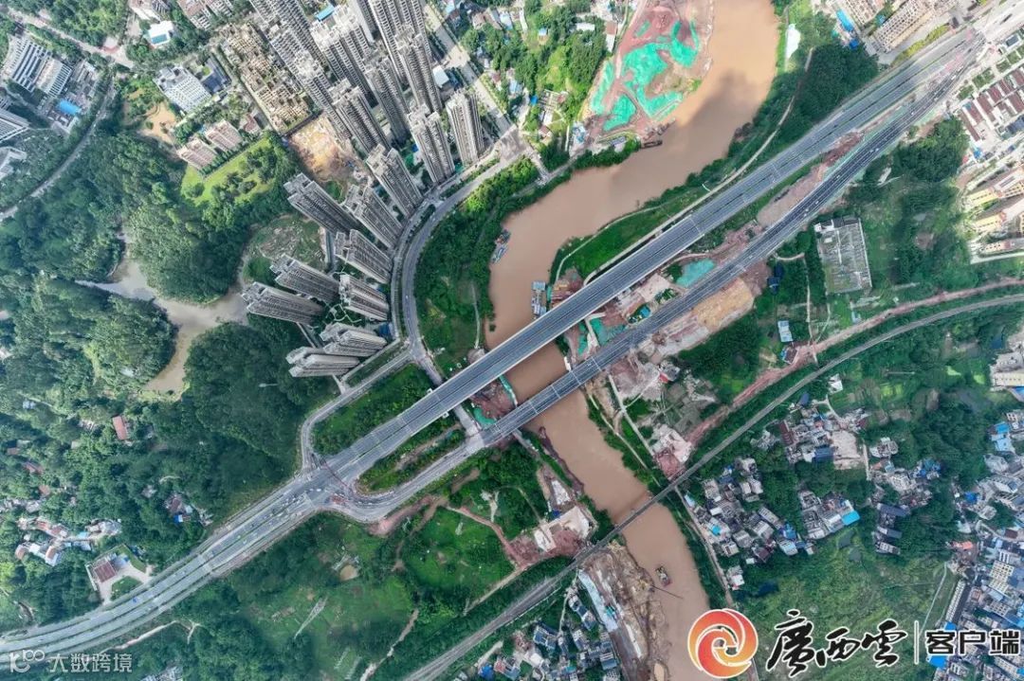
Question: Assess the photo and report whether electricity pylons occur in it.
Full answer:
Yes, you can see an electricity pylon in this photo.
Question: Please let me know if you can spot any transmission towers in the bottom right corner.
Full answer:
No, I can find no transmission tower in the bottom right corner.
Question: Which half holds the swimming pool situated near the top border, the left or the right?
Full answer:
It is on the left.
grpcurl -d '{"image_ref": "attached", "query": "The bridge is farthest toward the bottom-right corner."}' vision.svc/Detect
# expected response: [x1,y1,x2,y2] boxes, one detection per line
[595,485,667,544]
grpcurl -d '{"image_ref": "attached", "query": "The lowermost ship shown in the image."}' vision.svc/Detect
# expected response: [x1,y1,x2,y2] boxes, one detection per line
[654,561,674,587]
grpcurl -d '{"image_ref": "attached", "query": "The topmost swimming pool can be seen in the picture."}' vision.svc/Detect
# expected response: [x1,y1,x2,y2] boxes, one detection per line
[148,20,170,44]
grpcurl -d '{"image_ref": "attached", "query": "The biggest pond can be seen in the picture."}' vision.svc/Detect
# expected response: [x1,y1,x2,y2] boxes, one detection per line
[76,244,251,390]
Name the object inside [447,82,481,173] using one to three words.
building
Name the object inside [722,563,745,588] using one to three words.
house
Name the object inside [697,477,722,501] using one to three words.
house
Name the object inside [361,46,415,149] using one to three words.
building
